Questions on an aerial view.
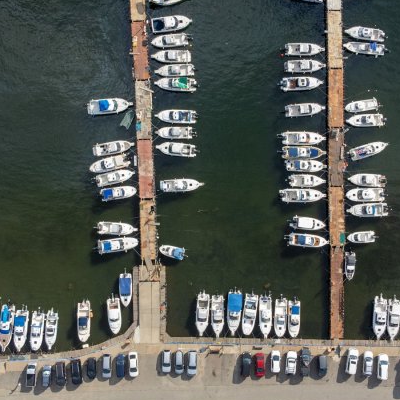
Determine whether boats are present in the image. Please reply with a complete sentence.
Yes, there is a boat in the image.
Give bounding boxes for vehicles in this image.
[270,350,280,373]
[241,352,252,377]
[300,348,312,377]
[255,352,266,377]
[186,350,198,375]
[70,359,82,385]
[377,353,389,380]
[25,362,38,388]
[317,354,329,377]
[174,350,184,373]
[161,349,171,373]
[116,353,126,377]
[54,361,66,387]
[362,350,374,376]
[286,350,297,375]
[345,348,359,375]
[86,357,96,379]
[102,353,112,377]
[128,351,139,377]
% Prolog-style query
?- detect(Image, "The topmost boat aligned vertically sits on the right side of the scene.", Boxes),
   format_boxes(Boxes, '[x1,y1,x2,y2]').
[343,246,358,284]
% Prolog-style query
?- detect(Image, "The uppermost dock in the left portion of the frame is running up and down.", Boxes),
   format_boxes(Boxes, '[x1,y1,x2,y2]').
[129,0,159,265]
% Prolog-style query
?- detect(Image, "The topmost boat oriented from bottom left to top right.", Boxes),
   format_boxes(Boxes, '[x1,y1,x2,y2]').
[118,111,134,130]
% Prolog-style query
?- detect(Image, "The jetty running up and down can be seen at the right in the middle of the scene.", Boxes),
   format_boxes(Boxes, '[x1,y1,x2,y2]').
[325,0,348,339]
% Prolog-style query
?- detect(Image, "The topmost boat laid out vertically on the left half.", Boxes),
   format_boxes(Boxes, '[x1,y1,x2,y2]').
[120,268,133,307]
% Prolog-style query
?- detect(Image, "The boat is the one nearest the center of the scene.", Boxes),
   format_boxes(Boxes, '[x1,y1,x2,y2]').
[151,178,205,193]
